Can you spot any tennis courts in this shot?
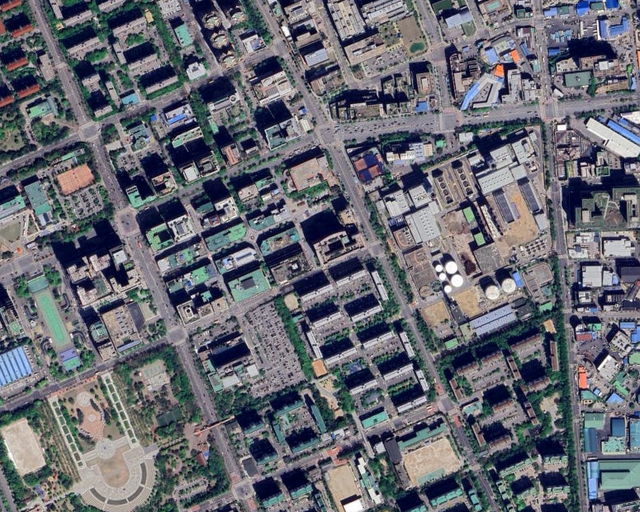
Yes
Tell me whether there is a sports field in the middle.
No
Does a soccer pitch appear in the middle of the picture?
No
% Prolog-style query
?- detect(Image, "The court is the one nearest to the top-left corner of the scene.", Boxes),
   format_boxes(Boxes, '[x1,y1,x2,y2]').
[58,164,94,195]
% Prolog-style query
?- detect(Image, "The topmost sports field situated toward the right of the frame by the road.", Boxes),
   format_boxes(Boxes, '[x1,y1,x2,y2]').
[404,437,461,484]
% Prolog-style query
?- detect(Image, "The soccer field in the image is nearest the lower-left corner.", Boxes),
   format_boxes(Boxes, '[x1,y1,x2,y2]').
[1,418,42,477]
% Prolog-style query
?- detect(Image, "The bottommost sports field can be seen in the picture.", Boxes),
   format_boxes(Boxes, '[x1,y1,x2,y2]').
[326,465,362,512]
